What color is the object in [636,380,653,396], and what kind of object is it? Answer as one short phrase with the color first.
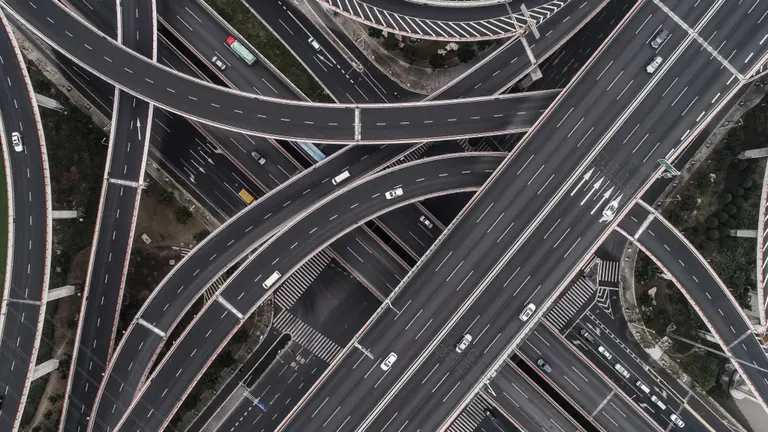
white vehicle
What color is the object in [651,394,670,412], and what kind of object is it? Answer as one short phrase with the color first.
white vehicle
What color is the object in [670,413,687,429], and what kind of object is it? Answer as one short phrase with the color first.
white car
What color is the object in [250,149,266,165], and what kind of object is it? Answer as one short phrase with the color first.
gray car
